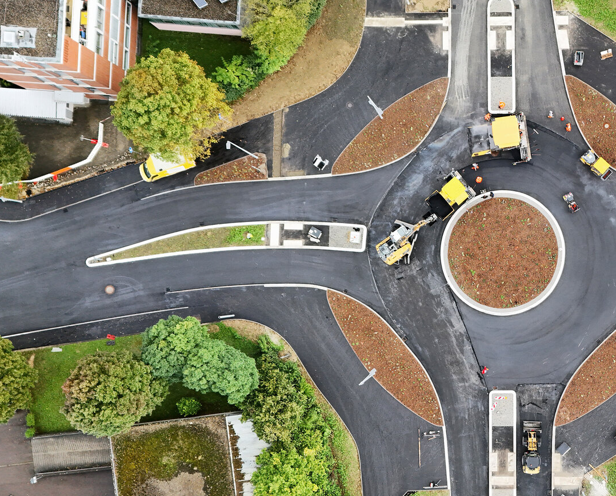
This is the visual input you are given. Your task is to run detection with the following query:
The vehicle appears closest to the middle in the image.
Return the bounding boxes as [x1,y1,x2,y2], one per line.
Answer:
[371,211,447,276]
